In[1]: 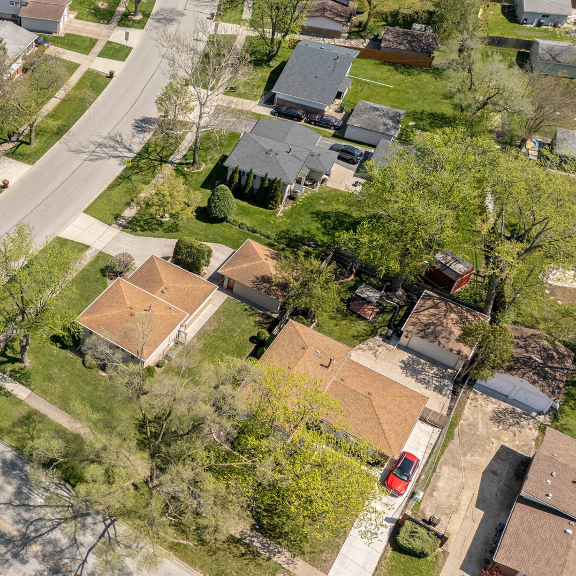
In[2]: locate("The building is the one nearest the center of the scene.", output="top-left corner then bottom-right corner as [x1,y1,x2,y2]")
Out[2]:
[217,238,308,313]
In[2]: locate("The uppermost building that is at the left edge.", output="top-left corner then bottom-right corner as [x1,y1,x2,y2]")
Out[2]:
[0,0,68,34]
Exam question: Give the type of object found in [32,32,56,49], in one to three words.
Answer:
car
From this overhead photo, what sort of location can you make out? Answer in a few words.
residential area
